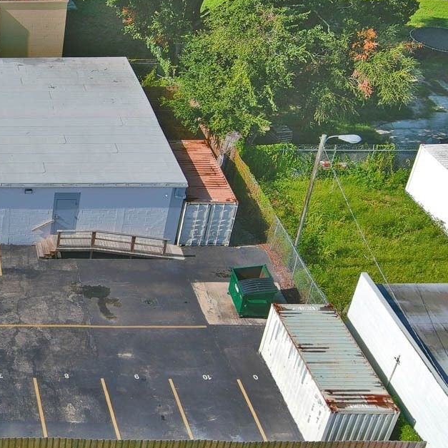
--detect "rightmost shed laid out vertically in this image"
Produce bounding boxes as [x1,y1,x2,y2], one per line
[407,147,448,238]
